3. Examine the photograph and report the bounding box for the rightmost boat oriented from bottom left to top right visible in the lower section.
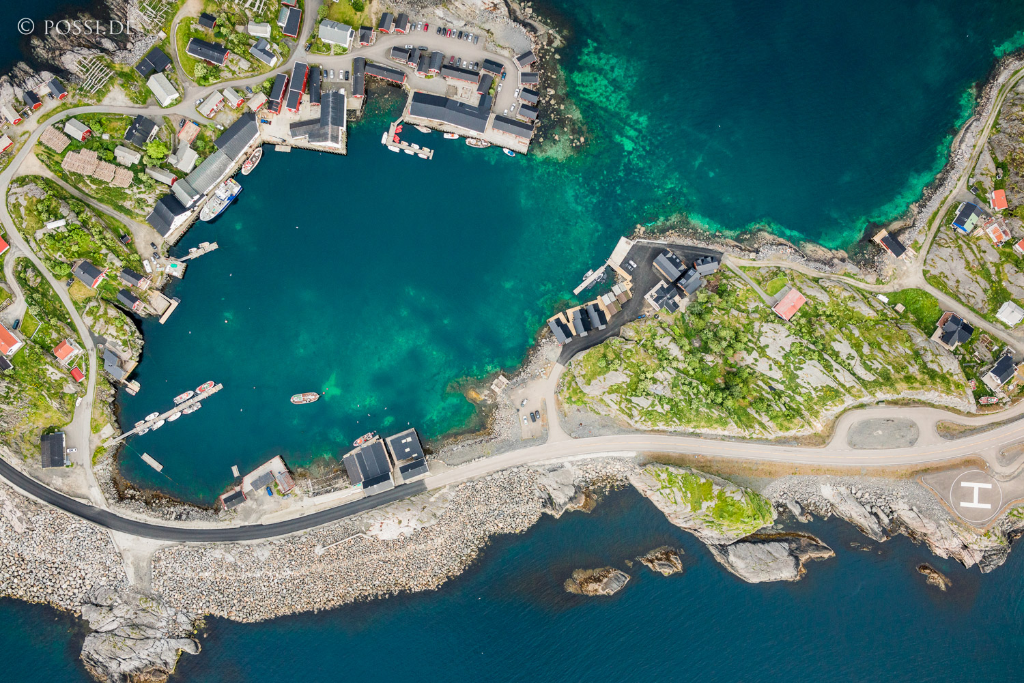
[354,432,373,446]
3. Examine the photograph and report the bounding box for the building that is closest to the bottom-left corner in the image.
[42,432,70,468]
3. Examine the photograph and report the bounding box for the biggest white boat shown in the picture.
[197,176,244,220]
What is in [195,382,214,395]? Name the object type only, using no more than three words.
boat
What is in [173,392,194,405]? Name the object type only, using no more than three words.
boat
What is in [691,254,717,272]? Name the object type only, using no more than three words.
house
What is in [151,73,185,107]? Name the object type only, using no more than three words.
barn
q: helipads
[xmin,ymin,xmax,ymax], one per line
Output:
[922,470,1024,527]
